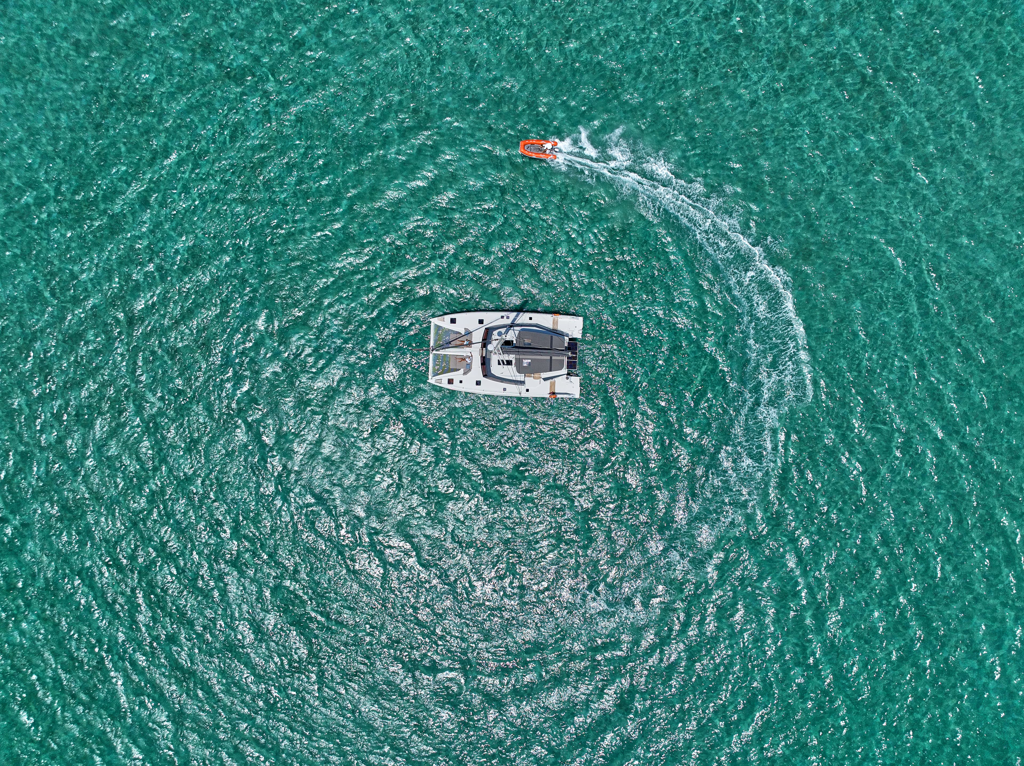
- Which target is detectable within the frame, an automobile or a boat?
boat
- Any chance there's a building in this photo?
No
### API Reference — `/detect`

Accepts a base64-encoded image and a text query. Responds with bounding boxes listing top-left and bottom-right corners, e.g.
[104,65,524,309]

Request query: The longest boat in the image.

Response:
[410,311,583,398]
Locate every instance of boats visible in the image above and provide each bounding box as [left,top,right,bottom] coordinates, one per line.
[410,311,583,398]
[520,139,560,159]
